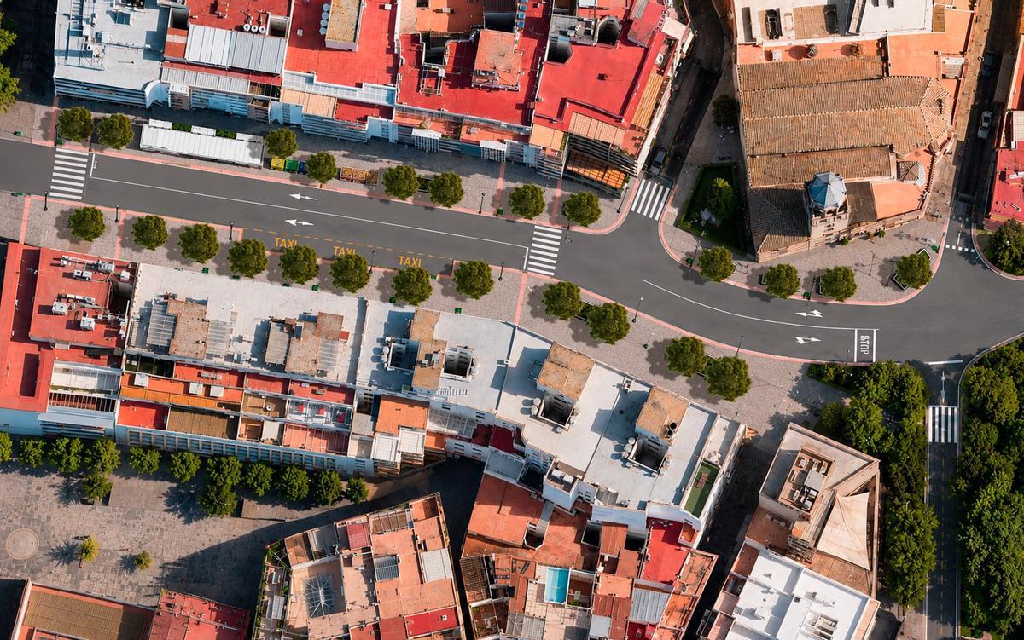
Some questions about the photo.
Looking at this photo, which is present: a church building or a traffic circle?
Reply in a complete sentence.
Of the two, only a church building appears.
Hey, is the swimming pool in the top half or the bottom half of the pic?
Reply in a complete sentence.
It is in the bottom half that the swimming pool appears.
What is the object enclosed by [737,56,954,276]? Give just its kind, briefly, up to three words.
church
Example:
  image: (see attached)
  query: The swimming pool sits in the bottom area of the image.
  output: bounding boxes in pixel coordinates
[544,566,570,605]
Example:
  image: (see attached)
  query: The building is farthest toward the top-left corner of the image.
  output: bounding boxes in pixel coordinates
[54,0,172,119]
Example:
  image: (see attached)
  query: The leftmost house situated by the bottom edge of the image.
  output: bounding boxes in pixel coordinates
[12,578,155,640]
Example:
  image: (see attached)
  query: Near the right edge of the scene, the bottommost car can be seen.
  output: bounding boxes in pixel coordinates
[977,110,993,140]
